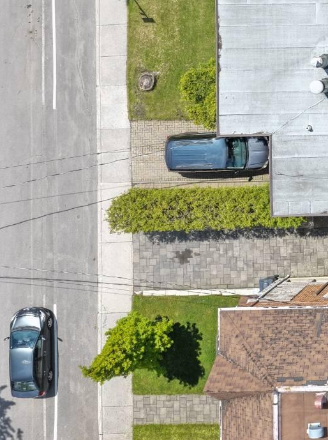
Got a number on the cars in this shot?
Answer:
2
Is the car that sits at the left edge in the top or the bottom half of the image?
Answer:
bottom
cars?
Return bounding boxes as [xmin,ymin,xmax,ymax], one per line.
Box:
[162,127,271,174]
[4,303,59,399]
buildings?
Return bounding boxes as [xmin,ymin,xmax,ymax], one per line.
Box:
[215,0,328,216]
[202,272,328,440]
